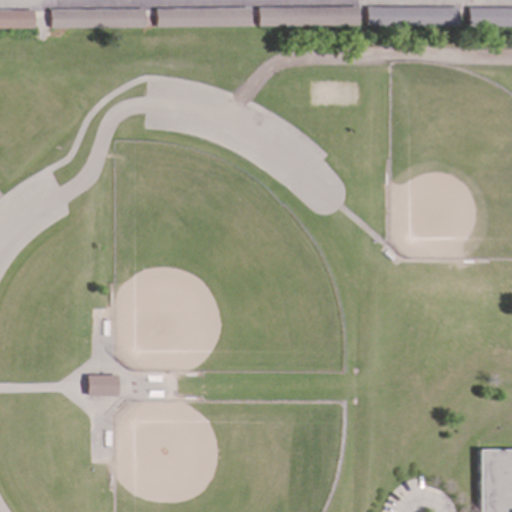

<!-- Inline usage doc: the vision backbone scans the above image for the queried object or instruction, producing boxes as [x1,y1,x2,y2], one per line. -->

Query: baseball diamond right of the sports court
[386,62,512,262]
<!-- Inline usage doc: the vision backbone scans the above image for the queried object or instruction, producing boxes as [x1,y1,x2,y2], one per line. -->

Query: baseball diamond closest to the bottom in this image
[113,400,346,512]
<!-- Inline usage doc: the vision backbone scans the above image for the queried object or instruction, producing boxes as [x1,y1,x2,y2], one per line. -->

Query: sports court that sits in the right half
[310,81,359,106]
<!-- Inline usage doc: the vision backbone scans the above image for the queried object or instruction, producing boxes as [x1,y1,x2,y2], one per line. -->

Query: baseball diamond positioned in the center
[112,140,346,374]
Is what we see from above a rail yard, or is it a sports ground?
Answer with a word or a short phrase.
sports ground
